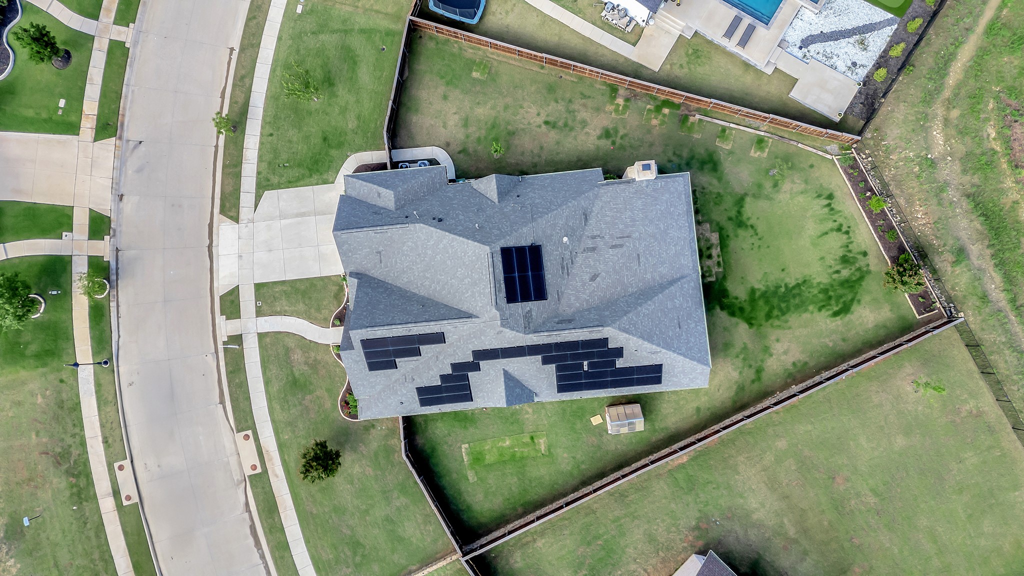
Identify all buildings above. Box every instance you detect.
[605,401,644,434]
[333,160,712,421]
[663,543,738,576]
[610,0,666,24]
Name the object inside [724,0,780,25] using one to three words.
swimming pool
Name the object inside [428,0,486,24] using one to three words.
trampoline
